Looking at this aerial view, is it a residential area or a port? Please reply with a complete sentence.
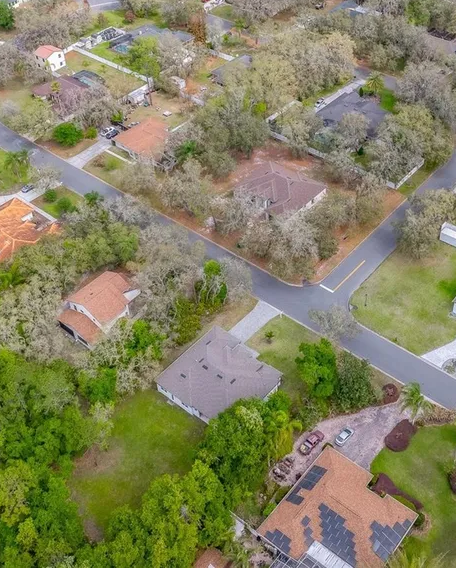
The area seen from above is a residential area.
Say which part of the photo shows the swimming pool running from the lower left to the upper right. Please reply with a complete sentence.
You can find the swimming pool running from the lower left to the upper right in the top left area of the picture.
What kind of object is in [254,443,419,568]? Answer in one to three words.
house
